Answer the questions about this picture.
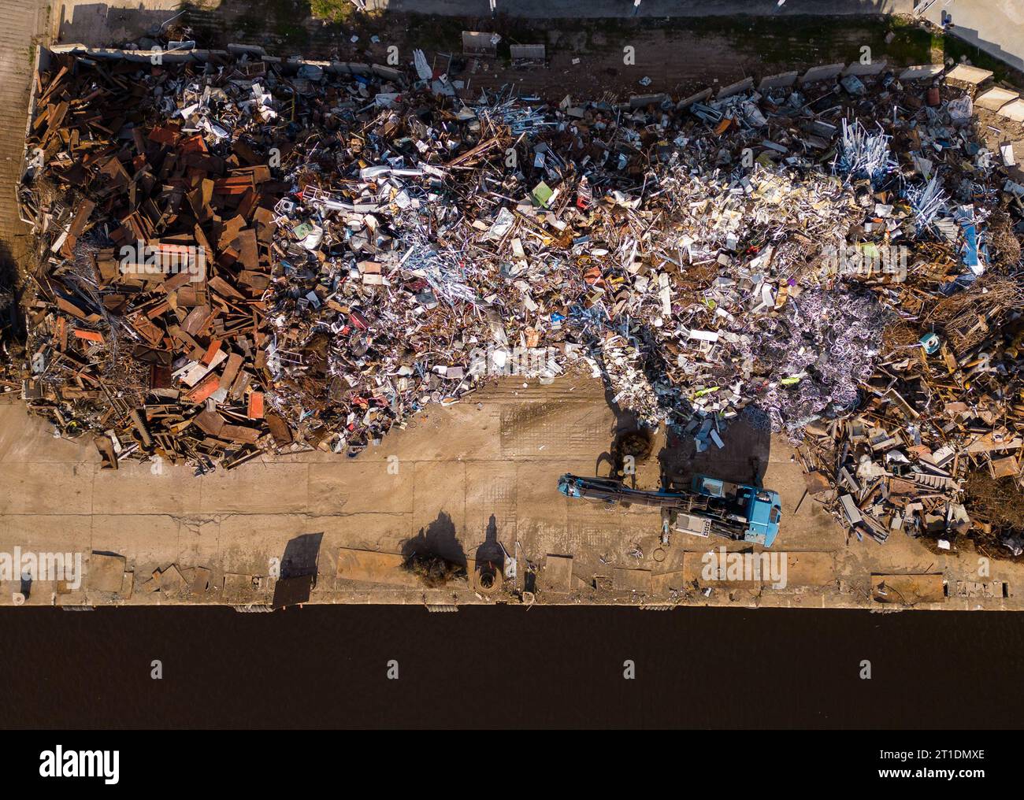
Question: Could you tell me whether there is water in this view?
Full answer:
Yes, water shows up in the scene.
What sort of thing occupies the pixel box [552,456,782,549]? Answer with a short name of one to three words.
work vehicle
